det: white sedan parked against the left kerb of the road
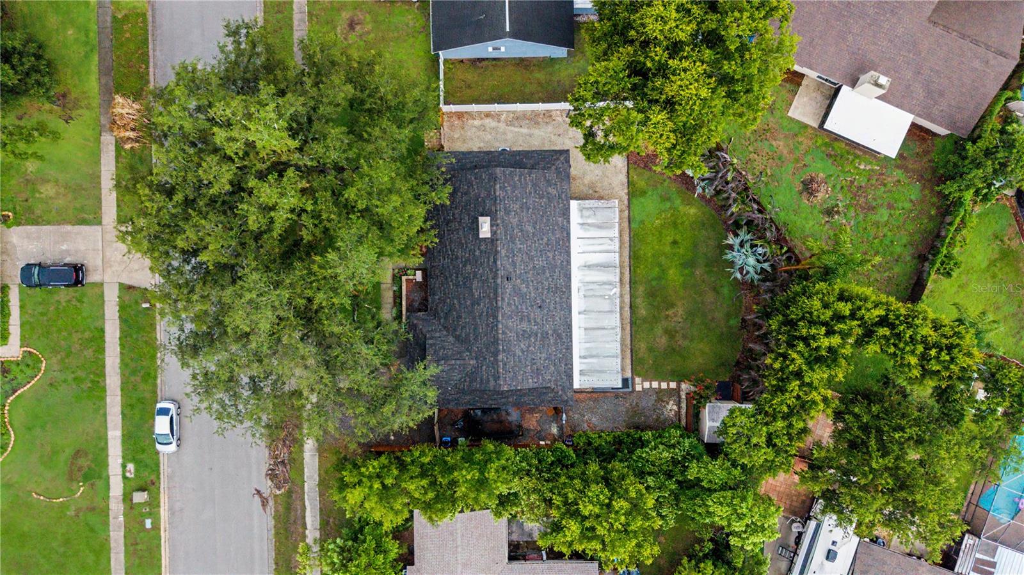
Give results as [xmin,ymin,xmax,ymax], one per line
[153,399,182,453]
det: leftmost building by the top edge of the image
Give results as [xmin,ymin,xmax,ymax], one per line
[431,0,575,61]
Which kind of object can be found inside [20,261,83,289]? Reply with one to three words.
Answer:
car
